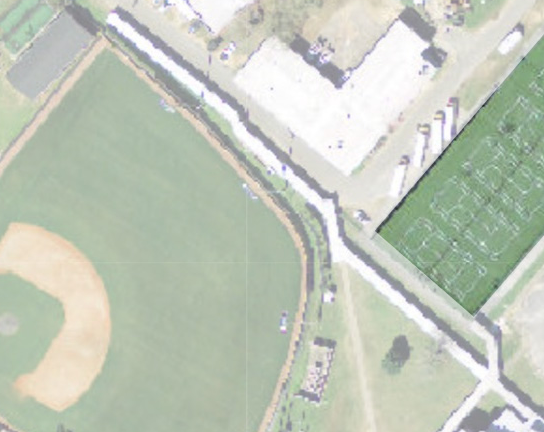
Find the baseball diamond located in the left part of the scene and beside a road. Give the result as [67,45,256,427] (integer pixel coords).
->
[0,40,310,432]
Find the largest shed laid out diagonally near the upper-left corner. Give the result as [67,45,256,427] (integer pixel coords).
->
[6,9,102,97]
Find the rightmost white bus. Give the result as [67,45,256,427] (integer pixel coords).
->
[494,26,524,54]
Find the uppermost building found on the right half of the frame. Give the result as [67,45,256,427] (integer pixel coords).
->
[233,19,440,174]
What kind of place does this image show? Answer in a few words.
sports ground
